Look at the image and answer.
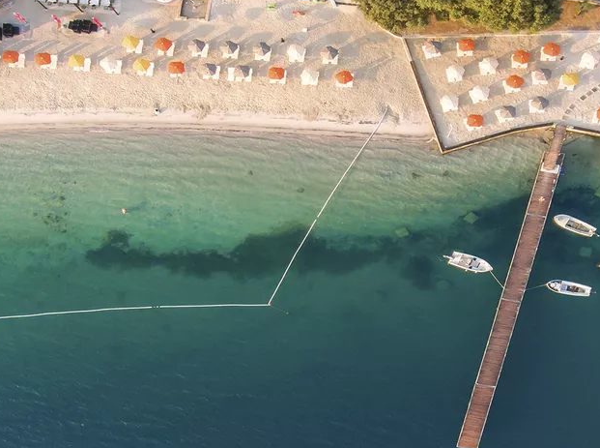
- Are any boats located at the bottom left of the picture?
No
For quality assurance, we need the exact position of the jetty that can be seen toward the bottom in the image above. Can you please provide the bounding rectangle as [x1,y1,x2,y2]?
[458,142,567,448]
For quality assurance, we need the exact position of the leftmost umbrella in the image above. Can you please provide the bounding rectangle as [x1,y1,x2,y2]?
[2,49,22,67]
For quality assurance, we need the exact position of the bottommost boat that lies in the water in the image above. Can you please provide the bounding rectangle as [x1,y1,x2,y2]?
[547,280,600,297]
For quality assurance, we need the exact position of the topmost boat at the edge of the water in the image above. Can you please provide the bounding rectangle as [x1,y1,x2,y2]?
[554,217,600,237]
